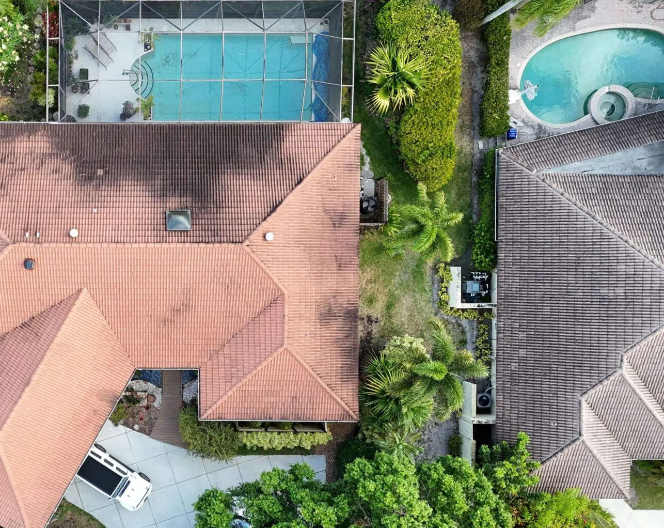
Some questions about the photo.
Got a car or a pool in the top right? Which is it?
pool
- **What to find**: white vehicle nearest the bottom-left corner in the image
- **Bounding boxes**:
[81,442,156,508]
